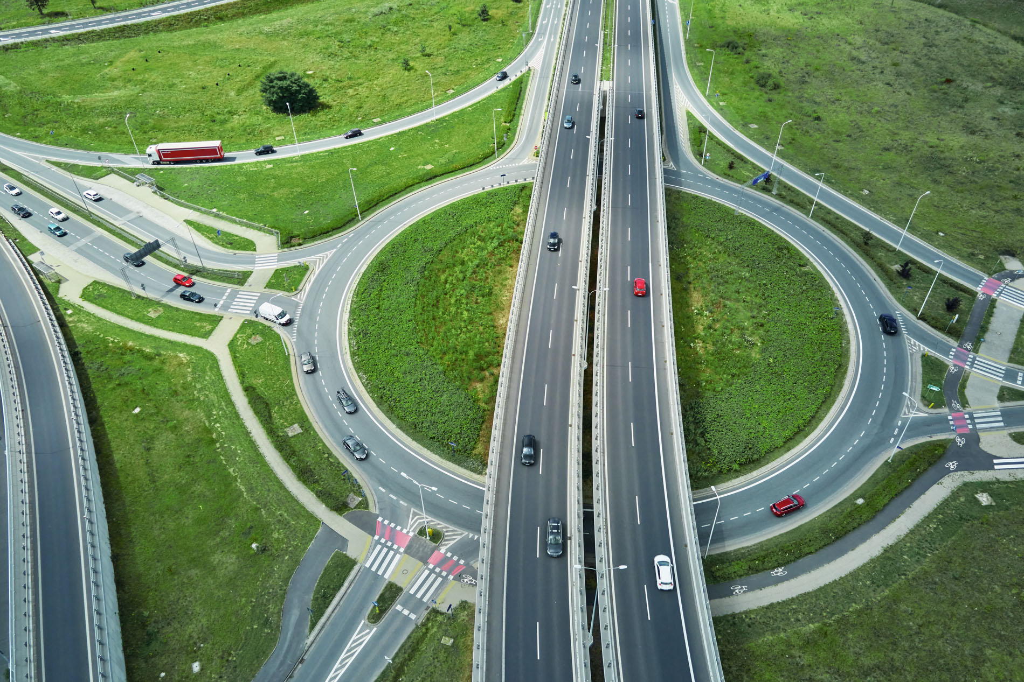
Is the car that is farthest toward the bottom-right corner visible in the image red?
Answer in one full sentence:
Yes, the car that is farthest toward the bottom-right corner is red.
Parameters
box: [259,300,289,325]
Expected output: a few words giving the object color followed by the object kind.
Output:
white vehicle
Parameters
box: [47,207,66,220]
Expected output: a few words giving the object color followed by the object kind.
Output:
white vehicle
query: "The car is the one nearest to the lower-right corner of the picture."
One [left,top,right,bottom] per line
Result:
[770,495,807,516]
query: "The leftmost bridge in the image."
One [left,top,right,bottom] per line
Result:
[0,225,125,682]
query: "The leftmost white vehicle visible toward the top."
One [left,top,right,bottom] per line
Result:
[2,182,19,194]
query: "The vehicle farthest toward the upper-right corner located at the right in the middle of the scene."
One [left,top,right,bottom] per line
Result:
[879,313,900,333]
